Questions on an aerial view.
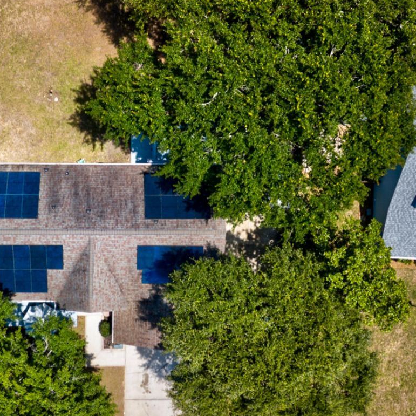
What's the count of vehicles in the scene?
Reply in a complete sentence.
I count no vehicles.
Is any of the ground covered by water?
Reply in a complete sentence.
No, there is no water in the image.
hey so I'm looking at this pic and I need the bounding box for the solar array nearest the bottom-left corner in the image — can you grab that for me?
[0,245,64,290]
